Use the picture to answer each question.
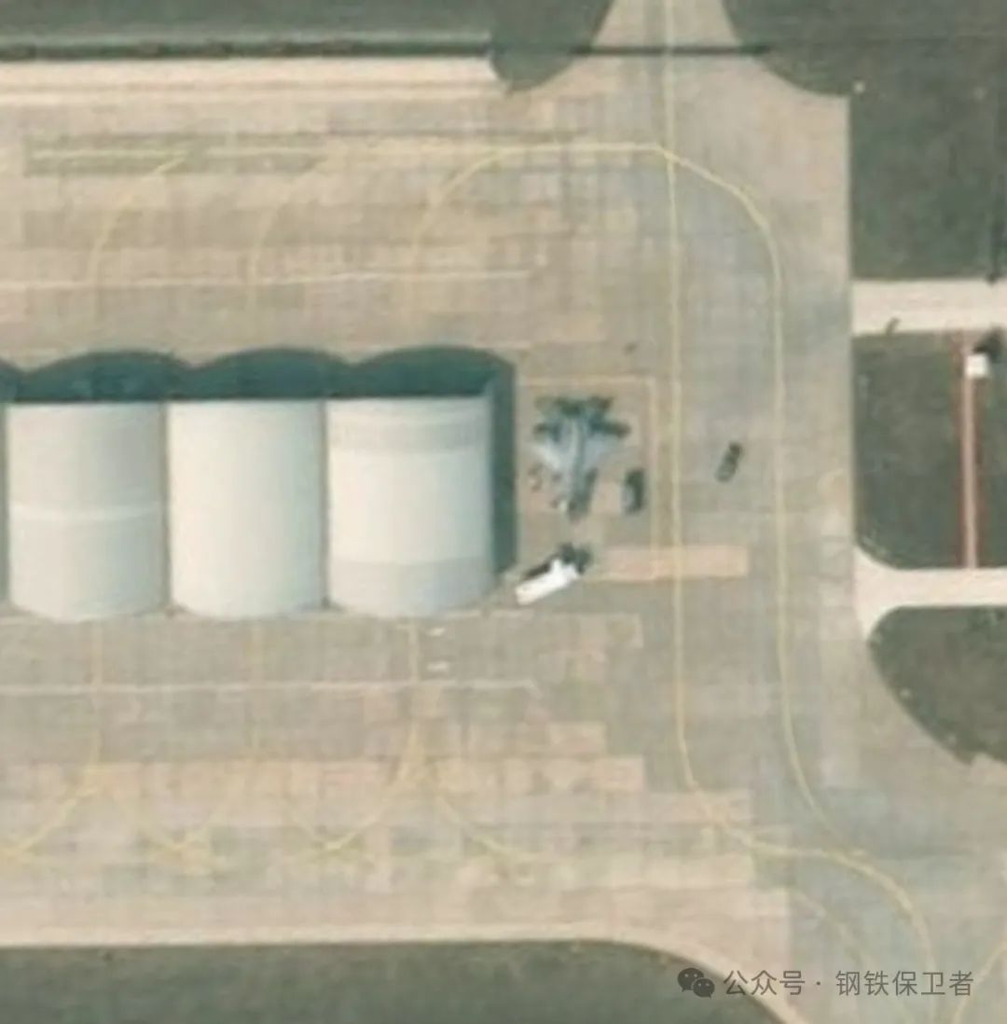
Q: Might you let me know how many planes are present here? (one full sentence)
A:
My tally gives 1 plane in this photo.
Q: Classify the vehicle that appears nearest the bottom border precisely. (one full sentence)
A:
In the photo, the vehicle that appears nearest the bottom border shows up as a truck.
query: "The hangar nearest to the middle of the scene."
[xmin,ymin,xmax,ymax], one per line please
[326,391,493,614]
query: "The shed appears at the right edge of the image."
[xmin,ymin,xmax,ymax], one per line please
[966,351,987,375]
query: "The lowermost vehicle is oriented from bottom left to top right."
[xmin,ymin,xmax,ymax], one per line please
[515,552,583,603]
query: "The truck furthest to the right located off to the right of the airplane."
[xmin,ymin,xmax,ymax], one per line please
[718,447,741,481]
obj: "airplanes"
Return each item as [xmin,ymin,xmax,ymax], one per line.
[534,407,619,524]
